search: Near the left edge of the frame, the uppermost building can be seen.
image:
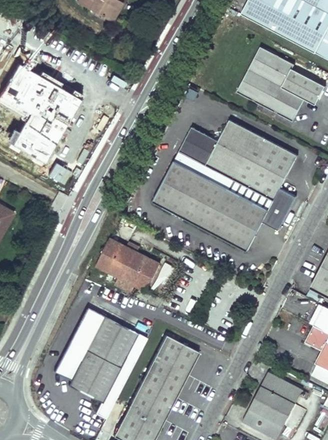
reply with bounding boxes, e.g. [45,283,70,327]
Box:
[0,64,83,165]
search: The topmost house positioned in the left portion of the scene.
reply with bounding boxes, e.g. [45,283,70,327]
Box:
[76,0,128,21]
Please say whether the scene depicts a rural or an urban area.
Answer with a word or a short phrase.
urban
